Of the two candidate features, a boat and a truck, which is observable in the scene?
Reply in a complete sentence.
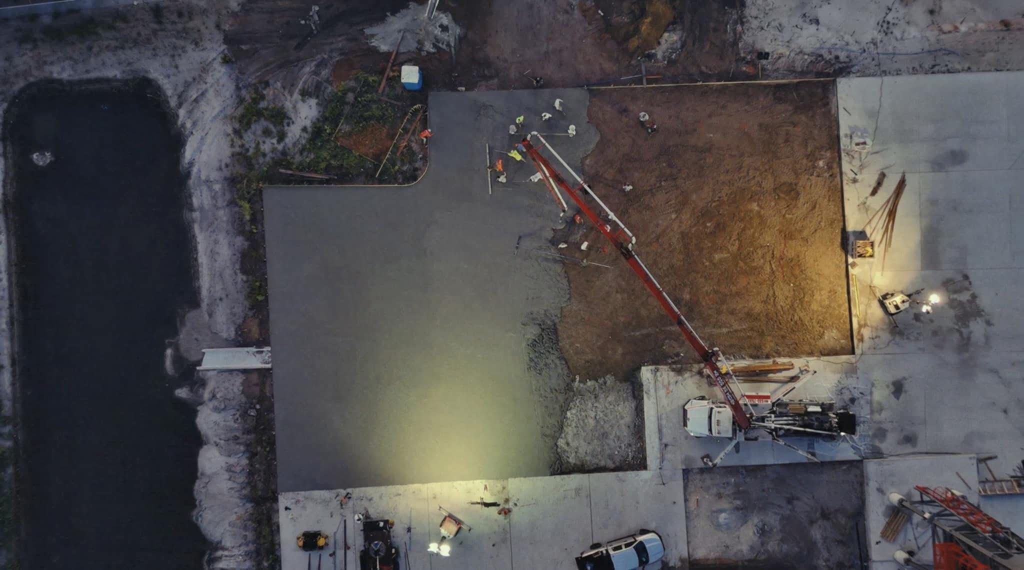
I can see a truck in this picture.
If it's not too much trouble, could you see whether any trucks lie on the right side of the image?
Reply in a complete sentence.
Yes, on the right side of the image there is a truck.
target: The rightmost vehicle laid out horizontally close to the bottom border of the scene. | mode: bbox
[571,528,668,570]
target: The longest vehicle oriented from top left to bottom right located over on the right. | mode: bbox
[522,130,857,467]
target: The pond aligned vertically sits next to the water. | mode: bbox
[6,78,221,570]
